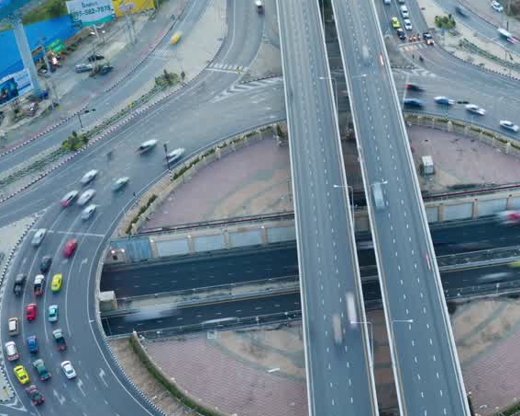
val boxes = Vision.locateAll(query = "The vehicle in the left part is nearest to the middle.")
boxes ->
[164,149,186,163]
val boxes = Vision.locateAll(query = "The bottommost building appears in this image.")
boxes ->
[419,152,435,174]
